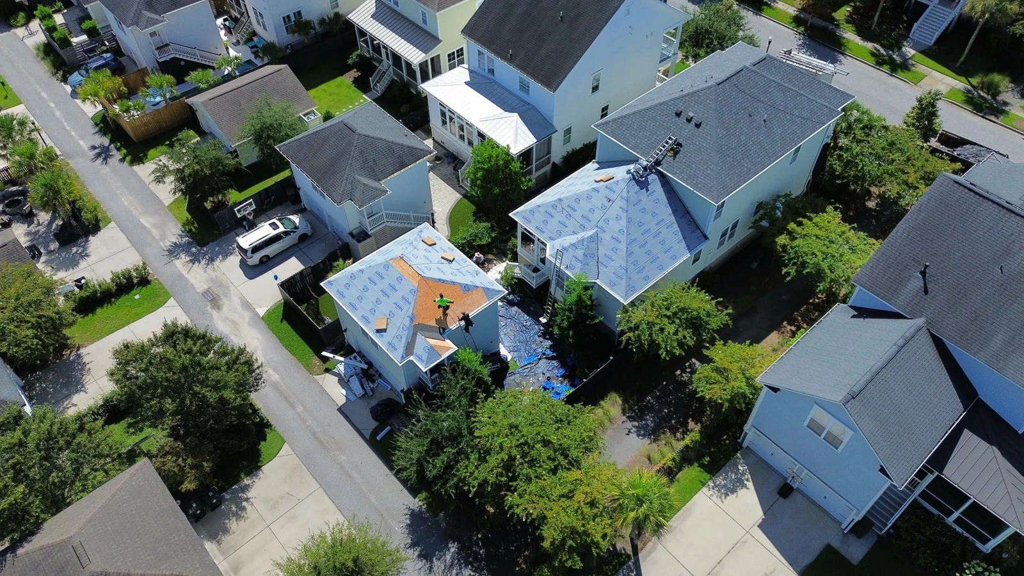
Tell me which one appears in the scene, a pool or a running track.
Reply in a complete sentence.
It is a pool that can be seen here.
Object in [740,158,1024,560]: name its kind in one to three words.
house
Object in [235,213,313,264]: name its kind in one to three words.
car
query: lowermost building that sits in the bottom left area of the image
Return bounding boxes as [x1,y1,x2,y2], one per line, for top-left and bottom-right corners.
[0,454,221,576]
